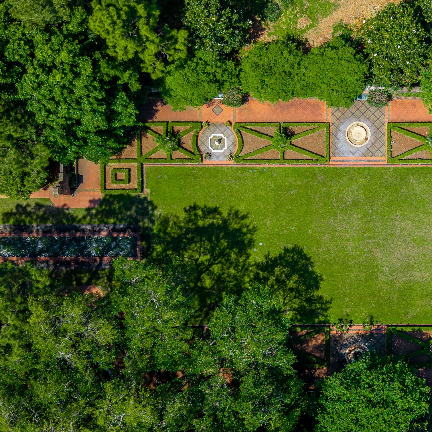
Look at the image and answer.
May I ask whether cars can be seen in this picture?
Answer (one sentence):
No, I find no car anywhere in the image.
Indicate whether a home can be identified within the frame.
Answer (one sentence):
No, this view has no home in it.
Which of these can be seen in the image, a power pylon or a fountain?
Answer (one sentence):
It is a fountain that can be seen here.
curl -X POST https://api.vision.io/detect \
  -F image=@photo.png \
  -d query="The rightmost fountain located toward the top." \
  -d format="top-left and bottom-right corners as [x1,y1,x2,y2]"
[345,121,371,147]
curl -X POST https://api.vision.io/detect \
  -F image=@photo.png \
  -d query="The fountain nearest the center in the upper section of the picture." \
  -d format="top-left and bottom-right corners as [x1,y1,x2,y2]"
[208,134,228,152]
